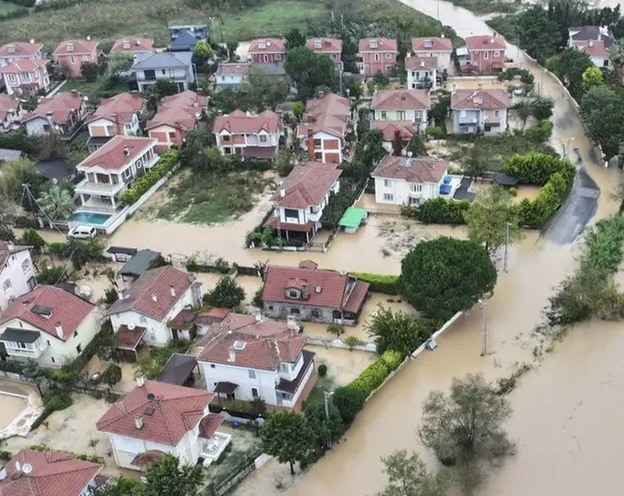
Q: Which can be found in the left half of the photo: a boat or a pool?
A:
pool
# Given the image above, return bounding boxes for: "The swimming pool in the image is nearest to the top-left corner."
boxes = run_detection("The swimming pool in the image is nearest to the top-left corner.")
[62,200,130,240]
